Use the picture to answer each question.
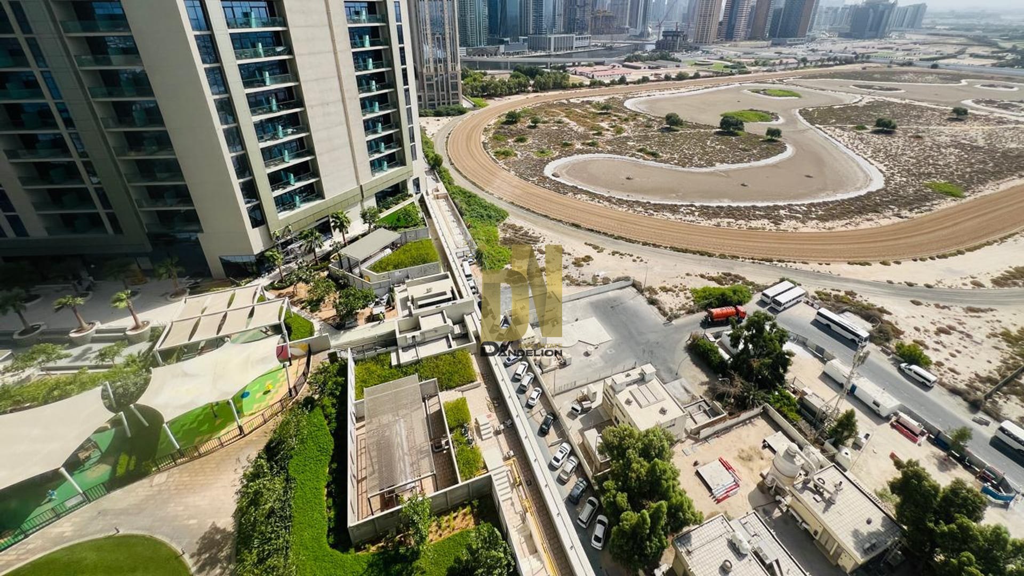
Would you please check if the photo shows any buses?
Yes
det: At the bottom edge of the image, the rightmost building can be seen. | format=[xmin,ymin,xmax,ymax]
[784,463,908,576]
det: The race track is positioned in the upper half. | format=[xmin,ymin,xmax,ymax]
[448,64,1024,261]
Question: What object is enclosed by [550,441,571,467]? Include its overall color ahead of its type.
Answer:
white car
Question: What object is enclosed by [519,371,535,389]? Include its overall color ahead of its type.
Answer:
white car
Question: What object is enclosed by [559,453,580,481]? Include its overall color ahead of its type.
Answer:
gray car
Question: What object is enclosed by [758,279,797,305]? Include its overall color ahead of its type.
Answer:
white bus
